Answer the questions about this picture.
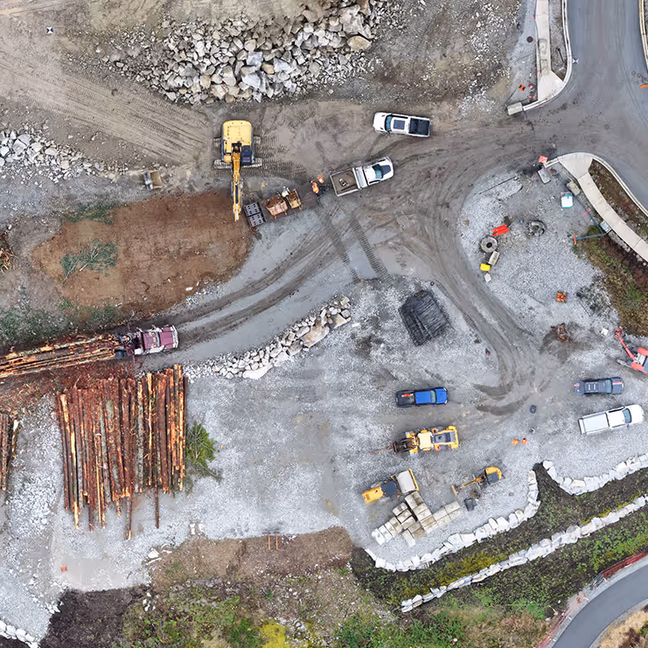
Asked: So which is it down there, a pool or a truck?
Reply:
truck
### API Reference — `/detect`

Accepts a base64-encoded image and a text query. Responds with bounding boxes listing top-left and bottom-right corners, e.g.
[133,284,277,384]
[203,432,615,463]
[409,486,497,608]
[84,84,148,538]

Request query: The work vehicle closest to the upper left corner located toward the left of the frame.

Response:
[212,120,264,220]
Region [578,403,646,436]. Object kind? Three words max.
truck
